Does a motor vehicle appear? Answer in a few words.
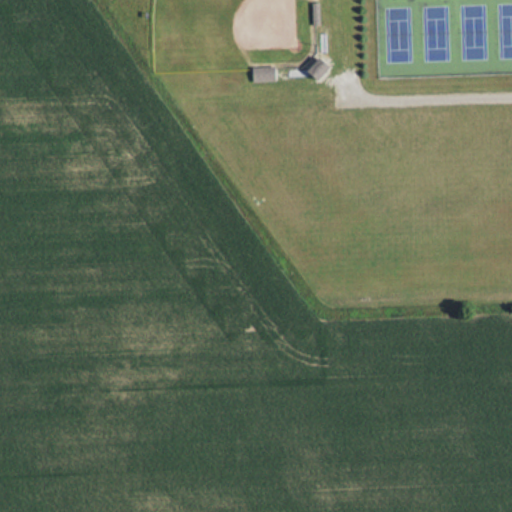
No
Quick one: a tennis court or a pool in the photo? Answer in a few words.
tennis court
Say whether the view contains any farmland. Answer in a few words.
Yes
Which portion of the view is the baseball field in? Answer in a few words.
top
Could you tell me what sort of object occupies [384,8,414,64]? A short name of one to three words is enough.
tennis court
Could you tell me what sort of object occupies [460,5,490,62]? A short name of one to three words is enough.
tennis court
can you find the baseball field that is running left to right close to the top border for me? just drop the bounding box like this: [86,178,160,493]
[154,0,319,72]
